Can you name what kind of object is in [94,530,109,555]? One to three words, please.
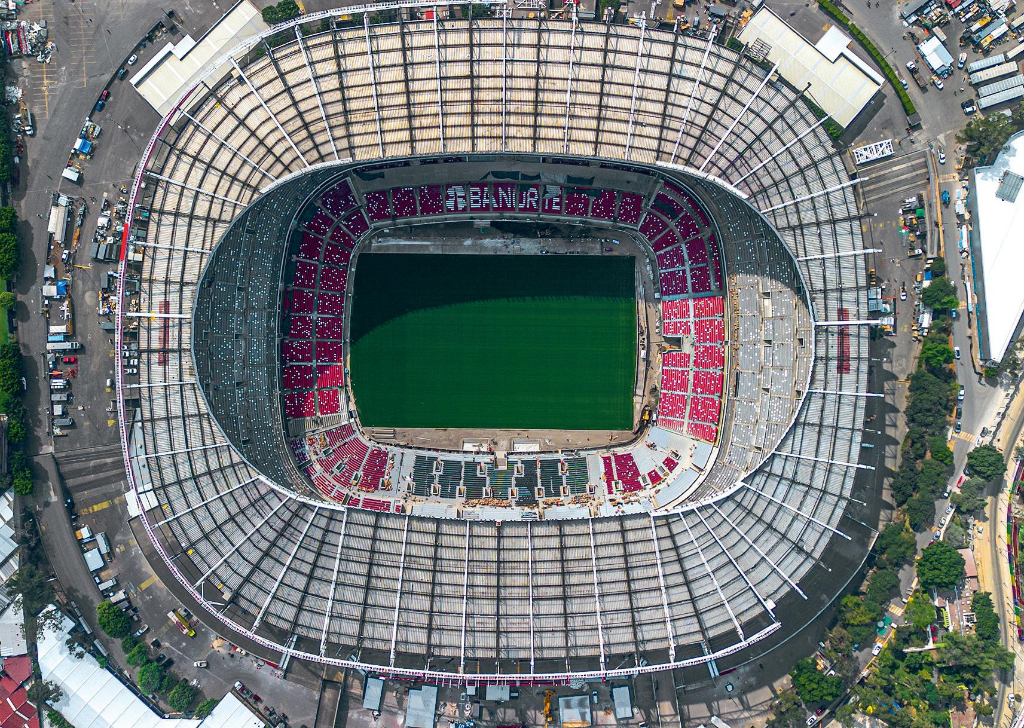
vehicle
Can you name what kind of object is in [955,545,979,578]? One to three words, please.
house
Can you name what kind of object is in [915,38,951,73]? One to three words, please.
shed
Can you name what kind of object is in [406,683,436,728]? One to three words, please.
shed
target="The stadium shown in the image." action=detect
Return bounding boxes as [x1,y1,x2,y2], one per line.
[113,0,894,682]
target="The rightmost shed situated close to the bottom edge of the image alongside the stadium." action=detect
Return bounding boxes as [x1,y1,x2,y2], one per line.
[612,682,633,719]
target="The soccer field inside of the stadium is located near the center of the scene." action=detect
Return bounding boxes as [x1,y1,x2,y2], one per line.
[349,253,636,430]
